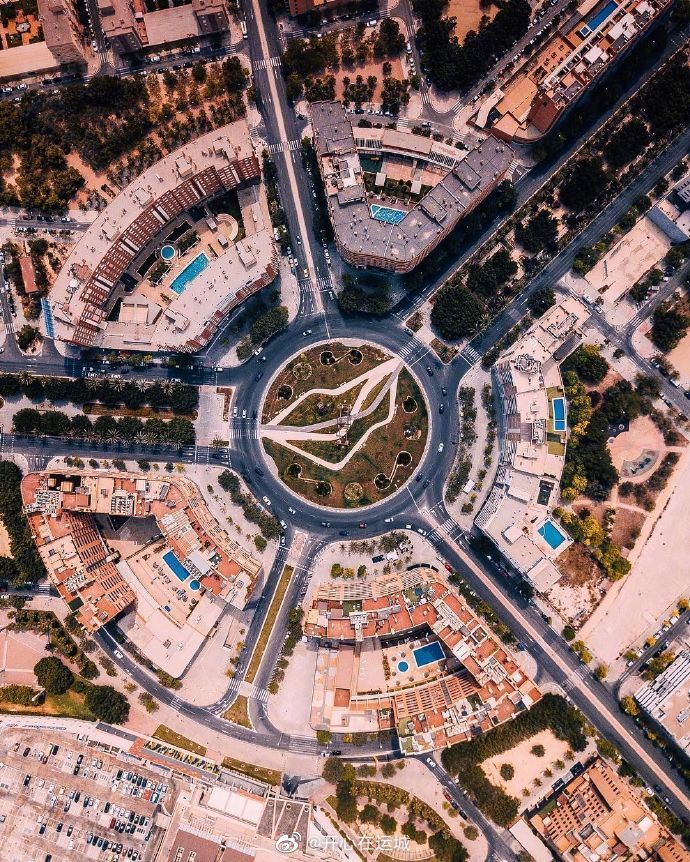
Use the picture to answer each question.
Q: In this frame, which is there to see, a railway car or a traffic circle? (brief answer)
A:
traffic circle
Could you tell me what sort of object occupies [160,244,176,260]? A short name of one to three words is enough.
swimming pool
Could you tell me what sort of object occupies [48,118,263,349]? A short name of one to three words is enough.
building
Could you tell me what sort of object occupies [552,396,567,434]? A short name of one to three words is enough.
swimming pool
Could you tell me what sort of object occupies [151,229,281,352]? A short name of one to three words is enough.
building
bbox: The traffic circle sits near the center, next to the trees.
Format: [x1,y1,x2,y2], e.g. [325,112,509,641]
[230,310,460,540]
